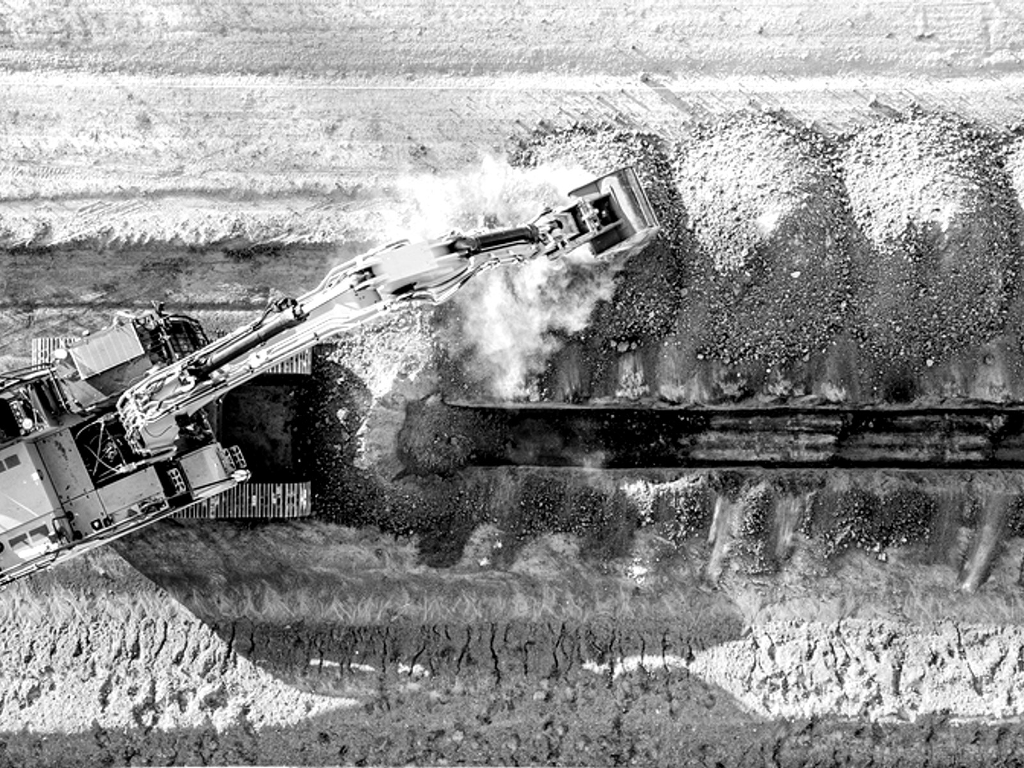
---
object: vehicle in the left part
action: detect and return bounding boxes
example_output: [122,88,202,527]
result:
[0,162,665,590]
